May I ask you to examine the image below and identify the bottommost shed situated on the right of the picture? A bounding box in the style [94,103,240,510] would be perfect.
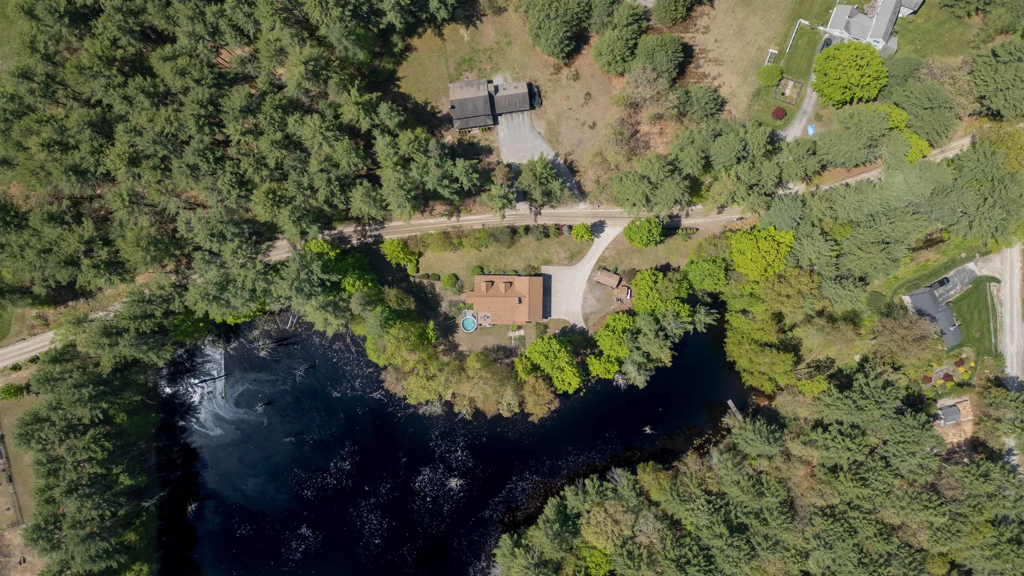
[935,401,963,421]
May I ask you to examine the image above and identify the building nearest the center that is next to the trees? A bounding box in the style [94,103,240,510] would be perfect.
[466,275,543,324]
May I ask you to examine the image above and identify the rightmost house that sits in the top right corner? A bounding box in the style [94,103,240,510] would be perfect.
[820,0,927,56]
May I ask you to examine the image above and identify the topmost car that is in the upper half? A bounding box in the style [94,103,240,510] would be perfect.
[819,35,832,53]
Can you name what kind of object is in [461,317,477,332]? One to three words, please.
swimming pool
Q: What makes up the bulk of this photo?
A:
trees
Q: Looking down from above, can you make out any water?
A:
Yes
